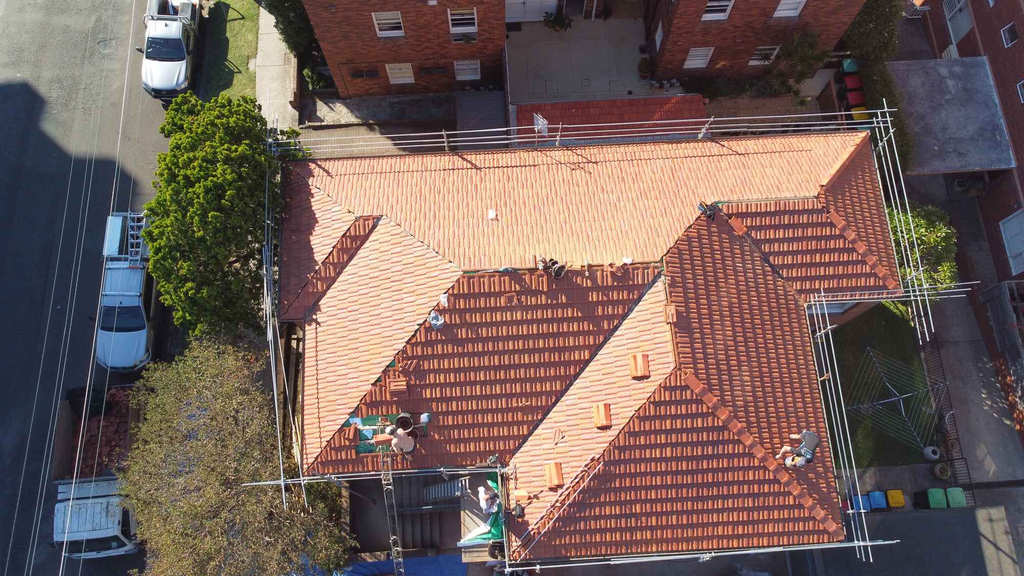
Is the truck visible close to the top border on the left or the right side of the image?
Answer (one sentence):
The truck visible close to the top border sits on the left side.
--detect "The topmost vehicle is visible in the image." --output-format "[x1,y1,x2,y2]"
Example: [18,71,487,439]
[131,0,202,110]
